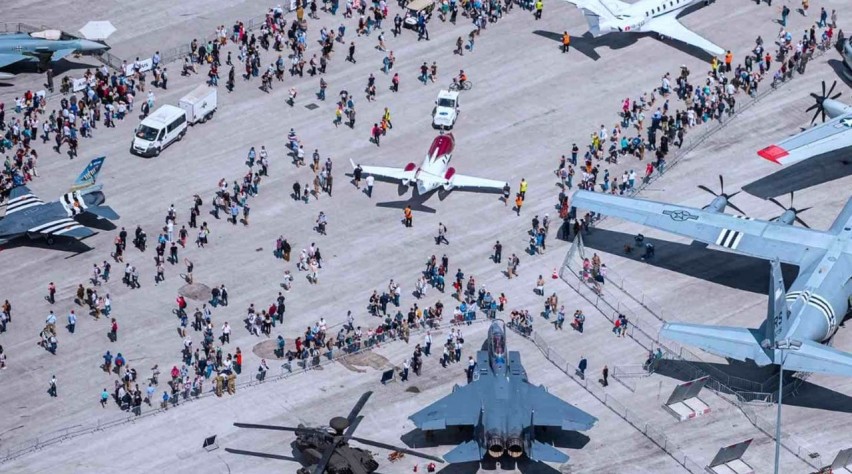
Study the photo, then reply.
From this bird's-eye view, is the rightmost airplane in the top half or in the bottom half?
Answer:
top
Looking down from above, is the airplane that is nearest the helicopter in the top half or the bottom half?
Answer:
bottom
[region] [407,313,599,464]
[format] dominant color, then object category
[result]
blue airplane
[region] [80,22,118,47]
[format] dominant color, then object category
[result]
white umbrella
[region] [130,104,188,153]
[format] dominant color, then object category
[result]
white vehicle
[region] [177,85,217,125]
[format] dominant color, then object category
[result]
white trailer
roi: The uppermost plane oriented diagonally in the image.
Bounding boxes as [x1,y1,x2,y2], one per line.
[759,44,852,169]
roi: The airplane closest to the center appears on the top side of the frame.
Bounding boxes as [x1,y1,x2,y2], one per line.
[346,130,512,199]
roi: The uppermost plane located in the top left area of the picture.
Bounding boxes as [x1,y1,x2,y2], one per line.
[0,27,114,74]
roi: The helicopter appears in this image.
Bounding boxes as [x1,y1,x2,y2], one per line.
[238,388,439,474]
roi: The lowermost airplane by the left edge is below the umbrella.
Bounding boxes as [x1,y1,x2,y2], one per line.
[0,157,115,249]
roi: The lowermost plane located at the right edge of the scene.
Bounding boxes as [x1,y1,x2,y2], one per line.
[566,173,852,385]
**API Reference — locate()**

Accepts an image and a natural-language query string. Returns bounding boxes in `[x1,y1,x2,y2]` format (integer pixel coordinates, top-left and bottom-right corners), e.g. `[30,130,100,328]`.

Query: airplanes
[346,130,512,199]
[566,173,852,385]
[566,0,726,53]
[0,157,115,249]
[407,313,599,464]
[0,27,114,74]
[759,44,852,169]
